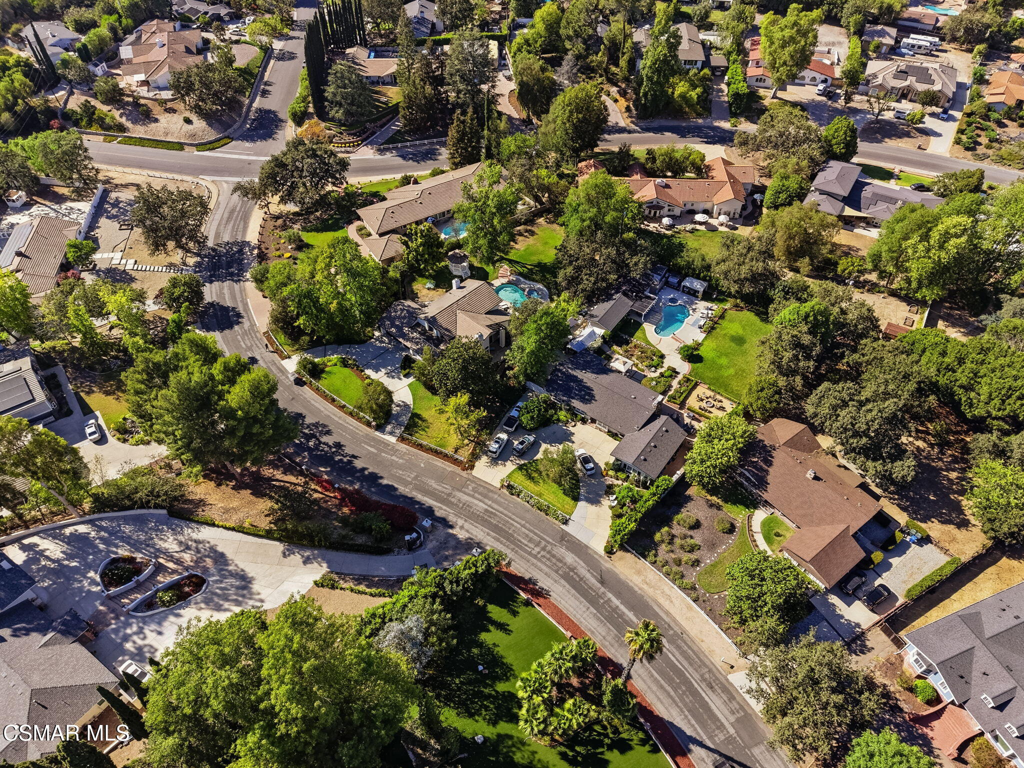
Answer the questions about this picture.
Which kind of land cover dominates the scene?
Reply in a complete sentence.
The bulk of the photo consists of trees.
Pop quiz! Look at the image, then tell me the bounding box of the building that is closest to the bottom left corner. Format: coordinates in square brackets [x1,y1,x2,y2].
[0,547,121,768]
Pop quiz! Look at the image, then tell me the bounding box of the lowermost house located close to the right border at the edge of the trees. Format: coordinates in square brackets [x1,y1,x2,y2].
[892,596,1024,768]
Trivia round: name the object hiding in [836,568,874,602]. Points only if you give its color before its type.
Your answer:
black car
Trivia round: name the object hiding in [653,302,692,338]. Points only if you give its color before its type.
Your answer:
blue swimming pool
